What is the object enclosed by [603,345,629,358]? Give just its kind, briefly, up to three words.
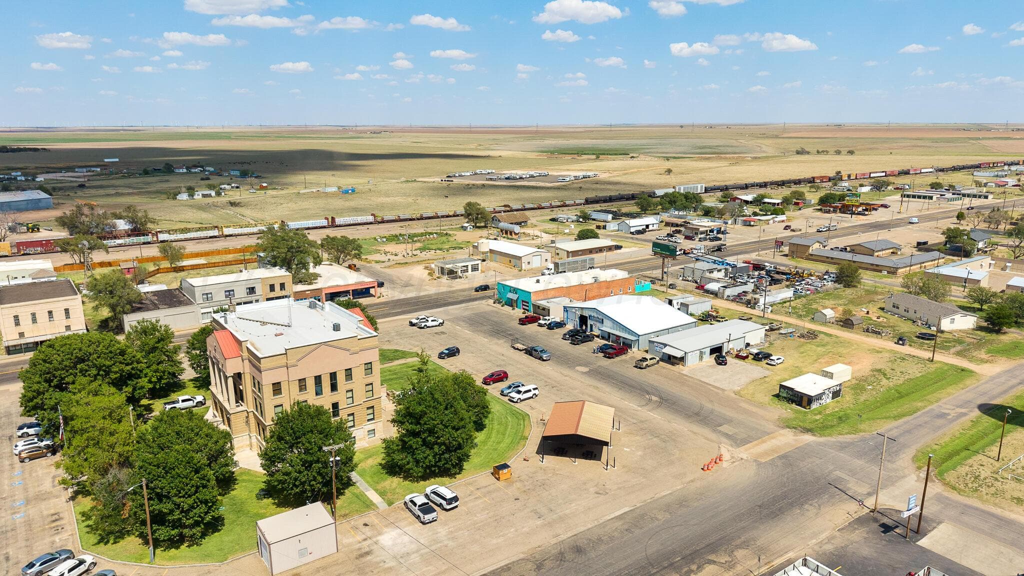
vehicle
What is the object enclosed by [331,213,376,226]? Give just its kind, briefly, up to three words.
rail car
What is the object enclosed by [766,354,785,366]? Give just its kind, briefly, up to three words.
vehicle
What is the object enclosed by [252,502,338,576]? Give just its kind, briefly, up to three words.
shed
